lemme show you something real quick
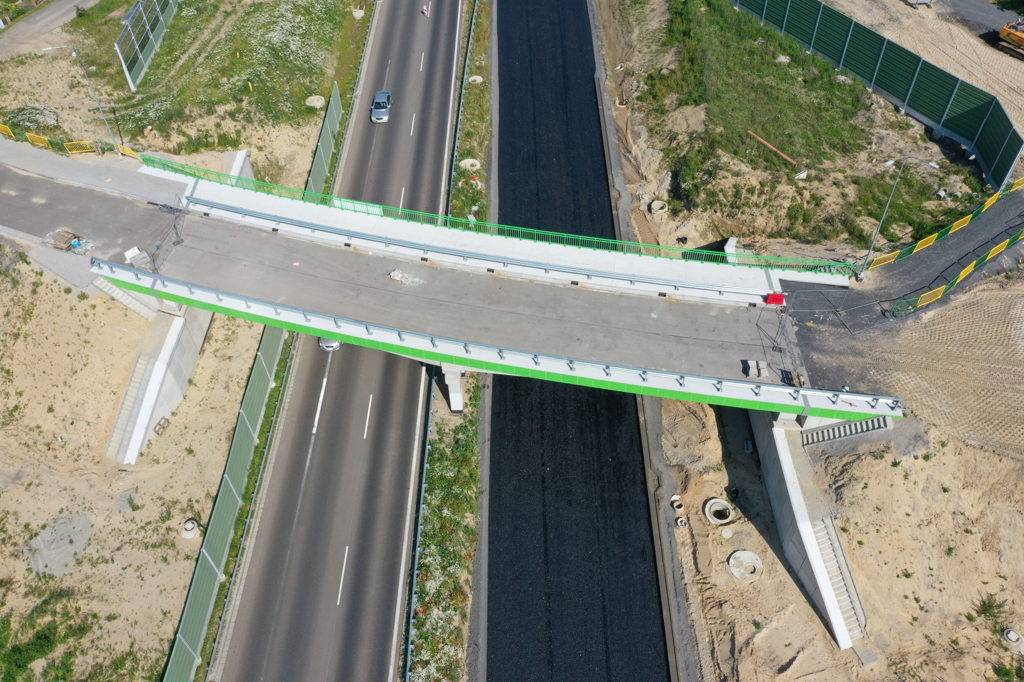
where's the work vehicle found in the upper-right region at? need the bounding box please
[997,17,1024,60]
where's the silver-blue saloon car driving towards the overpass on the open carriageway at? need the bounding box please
[368,88,390,119]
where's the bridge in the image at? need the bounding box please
[85,154,909,461]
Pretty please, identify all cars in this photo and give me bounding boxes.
[320,338,345,354]
[368,88,390,119]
